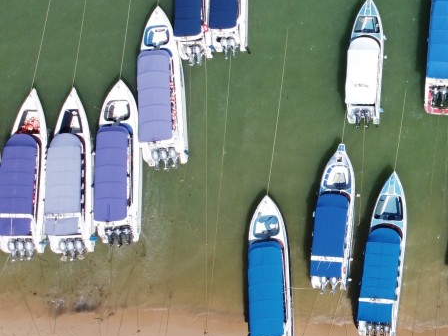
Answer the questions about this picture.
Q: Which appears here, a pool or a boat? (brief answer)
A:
boat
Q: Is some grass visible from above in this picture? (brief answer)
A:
No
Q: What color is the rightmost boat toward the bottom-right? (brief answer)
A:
blue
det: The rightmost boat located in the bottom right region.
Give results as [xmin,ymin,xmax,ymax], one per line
[357,170,406,336]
